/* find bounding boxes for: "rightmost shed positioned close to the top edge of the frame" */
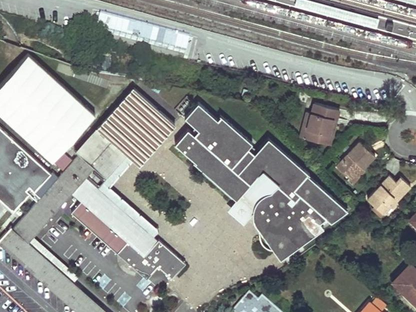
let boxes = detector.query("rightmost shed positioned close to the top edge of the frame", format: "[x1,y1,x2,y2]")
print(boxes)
[96,12,196,58]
